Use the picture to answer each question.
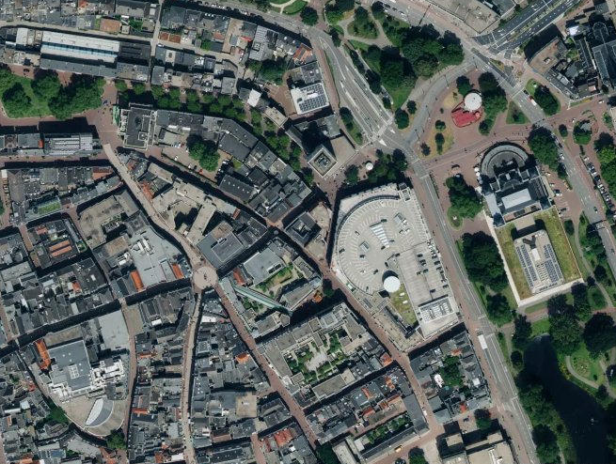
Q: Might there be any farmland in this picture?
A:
No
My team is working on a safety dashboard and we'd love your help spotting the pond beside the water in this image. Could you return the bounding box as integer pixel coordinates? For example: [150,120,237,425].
[523,335,616,464]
